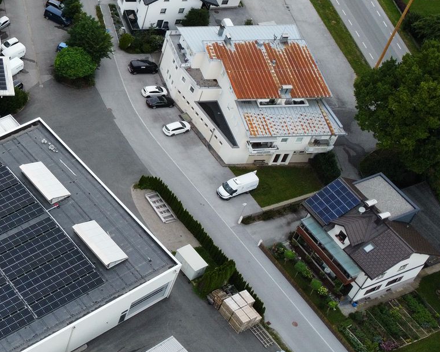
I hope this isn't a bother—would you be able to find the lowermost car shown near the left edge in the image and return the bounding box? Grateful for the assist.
[13,76,30,89]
